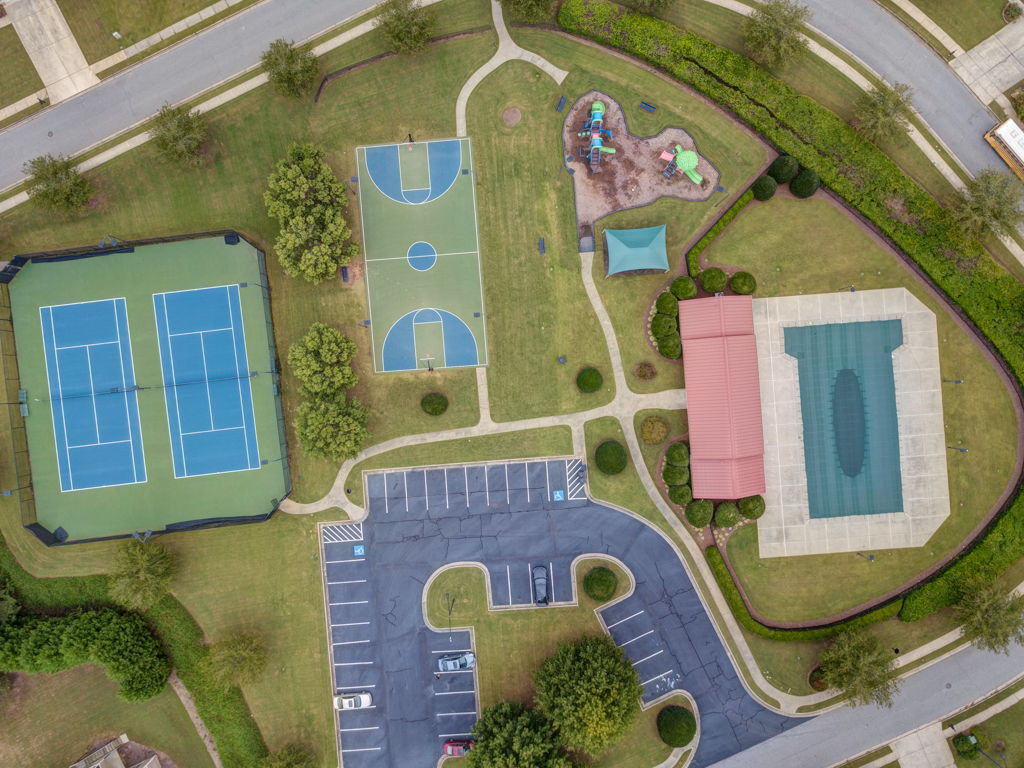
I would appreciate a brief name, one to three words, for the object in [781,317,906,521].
swimming pool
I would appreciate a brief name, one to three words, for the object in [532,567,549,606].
car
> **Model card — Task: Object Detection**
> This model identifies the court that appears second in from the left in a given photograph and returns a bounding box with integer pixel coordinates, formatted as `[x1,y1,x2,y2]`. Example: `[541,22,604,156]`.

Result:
[152,284,260,478]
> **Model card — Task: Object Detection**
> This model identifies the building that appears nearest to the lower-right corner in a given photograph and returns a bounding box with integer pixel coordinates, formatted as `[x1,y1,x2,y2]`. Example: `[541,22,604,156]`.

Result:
[679,295,767,499]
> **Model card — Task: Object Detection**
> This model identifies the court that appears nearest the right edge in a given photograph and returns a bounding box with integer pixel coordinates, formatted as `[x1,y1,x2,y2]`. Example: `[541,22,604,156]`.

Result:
[355,136,489,375]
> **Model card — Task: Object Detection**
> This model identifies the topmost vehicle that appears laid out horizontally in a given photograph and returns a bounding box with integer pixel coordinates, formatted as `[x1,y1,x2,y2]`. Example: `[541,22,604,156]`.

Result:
[438,652,476,672]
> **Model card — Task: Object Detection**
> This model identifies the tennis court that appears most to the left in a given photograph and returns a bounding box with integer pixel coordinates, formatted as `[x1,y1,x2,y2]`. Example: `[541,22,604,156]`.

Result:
[39,297,146,492]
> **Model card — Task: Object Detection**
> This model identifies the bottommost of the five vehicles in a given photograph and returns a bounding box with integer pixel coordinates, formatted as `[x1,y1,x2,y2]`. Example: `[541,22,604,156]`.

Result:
[443,739,474,758]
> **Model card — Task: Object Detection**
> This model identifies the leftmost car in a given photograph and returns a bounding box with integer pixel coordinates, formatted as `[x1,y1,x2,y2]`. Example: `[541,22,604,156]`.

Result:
[333,693,373,712]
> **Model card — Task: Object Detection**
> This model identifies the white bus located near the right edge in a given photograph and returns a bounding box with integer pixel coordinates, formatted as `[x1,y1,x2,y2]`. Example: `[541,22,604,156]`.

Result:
[986,114,1024,176]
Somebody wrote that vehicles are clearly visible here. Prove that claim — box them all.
[333,693,373,712]
[986,114,1024,176]
[443,739,474,758]
[532,567,549,606]
[438,652,476,672]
